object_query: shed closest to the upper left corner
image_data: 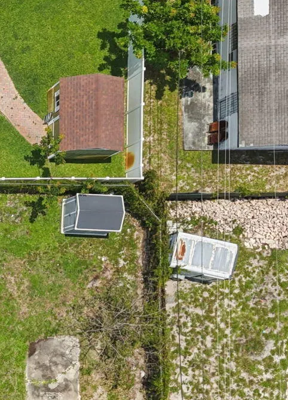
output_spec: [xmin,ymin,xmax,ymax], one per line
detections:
[47,74,123,161]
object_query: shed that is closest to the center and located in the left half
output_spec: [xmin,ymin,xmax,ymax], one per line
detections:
[61,192,125,233]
